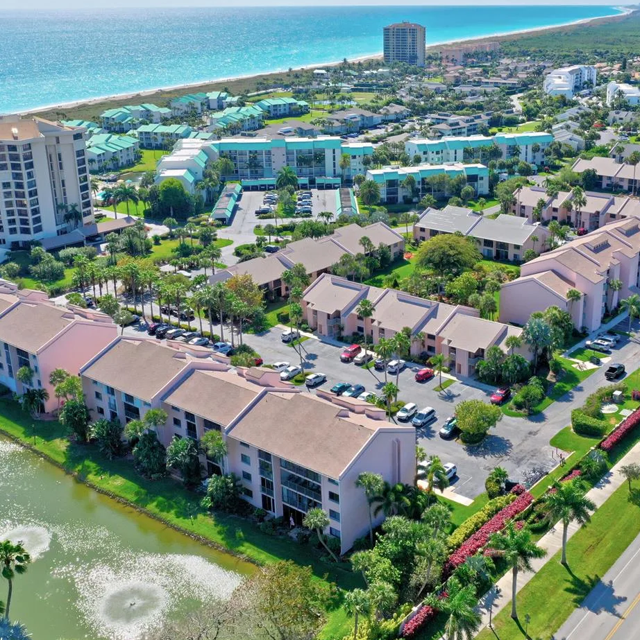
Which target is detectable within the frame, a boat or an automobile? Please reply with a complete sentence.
The one in the frame is an automobile.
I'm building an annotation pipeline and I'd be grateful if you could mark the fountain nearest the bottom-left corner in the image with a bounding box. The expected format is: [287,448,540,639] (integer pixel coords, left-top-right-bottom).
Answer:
[0,528,61,573]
